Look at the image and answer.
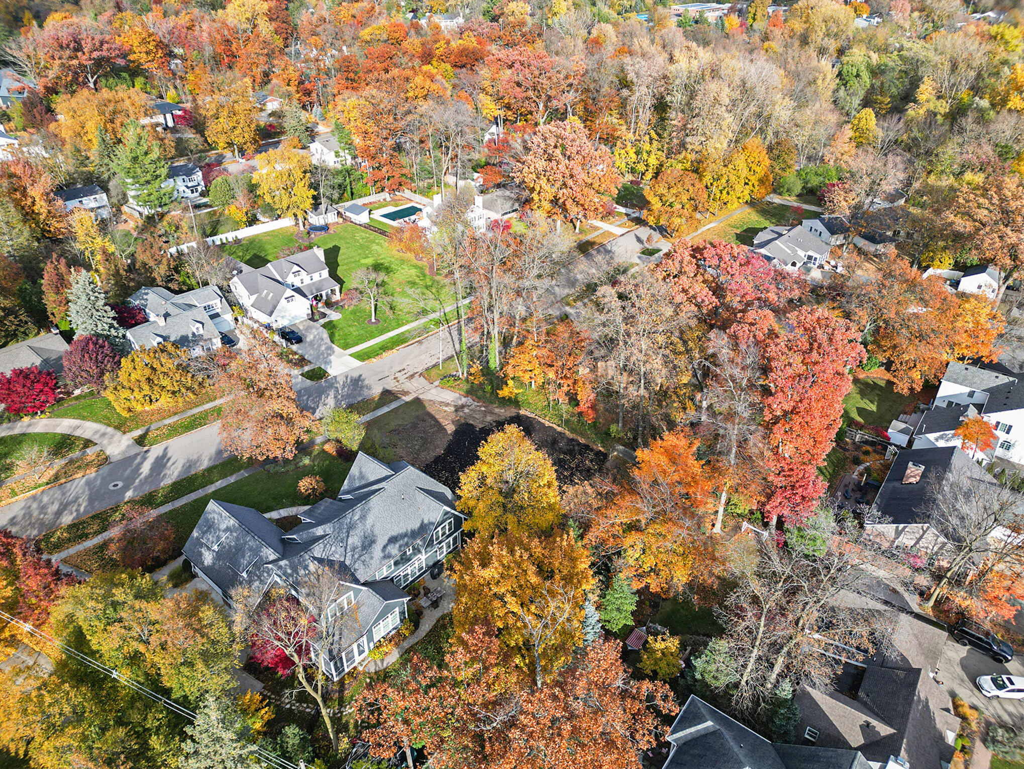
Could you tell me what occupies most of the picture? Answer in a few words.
trees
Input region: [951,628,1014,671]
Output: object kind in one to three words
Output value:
car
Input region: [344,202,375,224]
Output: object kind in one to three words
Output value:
shed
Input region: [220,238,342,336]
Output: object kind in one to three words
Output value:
house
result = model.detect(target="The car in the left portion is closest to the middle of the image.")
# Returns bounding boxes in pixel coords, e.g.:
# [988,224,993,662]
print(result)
[279,326,301,343]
